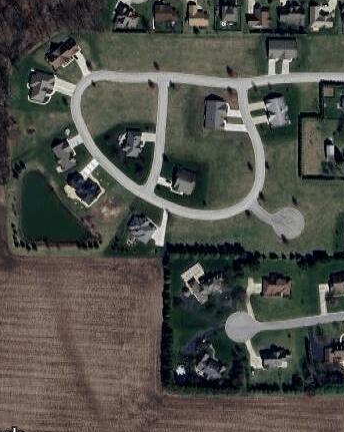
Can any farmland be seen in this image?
Yes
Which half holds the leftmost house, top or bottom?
top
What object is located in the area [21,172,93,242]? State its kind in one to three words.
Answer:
pond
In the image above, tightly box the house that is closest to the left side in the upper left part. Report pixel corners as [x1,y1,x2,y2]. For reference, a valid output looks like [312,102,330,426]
[26,75,54,101]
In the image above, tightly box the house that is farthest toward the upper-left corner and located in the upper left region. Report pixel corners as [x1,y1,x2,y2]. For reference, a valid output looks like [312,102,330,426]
[44,37,78,67]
